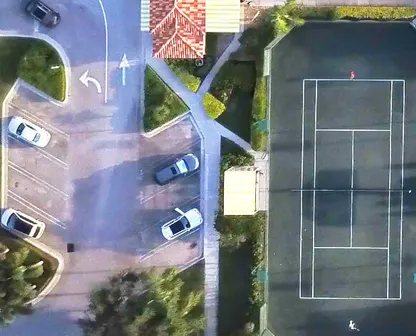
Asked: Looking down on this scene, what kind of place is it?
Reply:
sports ground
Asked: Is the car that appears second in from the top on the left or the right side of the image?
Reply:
left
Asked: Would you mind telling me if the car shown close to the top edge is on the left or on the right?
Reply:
left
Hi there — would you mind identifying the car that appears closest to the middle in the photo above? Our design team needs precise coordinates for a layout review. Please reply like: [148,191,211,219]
[155,153,201,184]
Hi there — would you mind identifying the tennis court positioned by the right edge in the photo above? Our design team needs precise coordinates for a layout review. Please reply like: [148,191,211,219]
[267,25,416,336]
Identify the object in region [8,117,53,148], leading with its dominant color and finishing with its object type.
white car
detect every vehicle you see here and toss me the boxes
[155,153,201,184]
[8,117,53,148]
[159,208,204,241]
[21,0,64,28]
[0,207,47,241]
